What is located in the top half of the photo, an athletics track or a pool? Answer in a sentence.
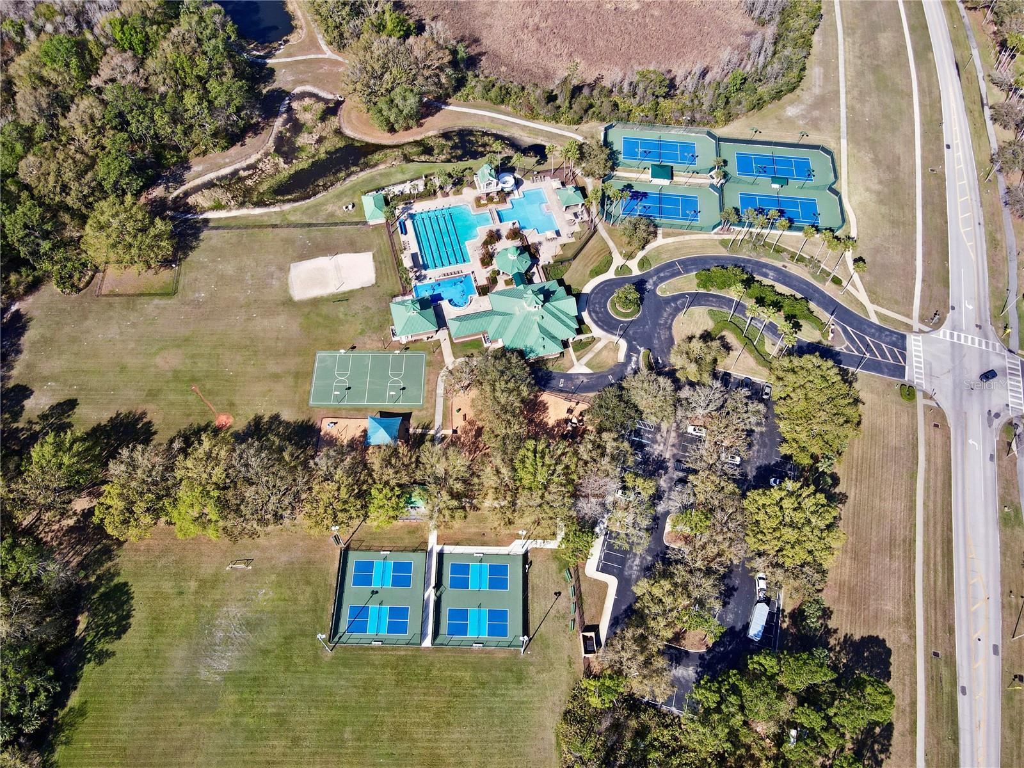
What appears in the top half of the photo is a pool.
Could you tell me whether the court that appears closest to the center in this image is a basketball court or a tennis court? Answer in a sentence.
The court that appears closest to the center is a basketball court.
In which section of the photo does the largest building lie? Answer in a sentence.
The largest building sits in the center section of the image.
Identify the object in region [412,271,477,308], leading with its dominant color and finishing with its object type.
blue swimming pool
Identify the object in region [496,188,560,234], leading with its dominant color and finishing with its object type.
blue swimming pool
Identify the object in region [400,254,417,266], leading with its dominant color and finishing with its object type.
white umbrella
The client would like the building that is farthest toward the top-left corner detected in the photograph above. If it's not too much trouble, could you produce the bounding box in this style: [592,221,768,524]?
[363,194,386,227]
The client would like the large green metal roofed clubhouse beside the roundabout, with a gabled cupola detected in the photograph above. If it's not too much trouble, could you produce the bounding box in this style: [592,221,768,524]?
[448,280,580,361]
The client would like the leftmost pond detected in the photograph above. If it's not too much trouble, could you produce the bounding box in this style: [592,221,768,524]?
[225,0,292,42]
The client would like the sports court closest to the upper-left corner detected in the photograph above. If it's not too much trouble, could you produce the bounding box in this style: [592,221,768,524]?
[287,251,376,302]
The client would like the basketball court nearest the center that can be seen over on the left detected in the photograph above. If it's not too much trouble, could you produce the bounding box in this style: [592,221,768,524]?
[365,351,426,408]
